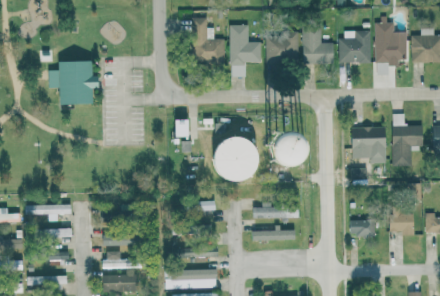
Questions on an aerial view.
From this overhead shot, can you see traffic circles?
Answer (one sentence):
No, the frame has no traffic circle in it.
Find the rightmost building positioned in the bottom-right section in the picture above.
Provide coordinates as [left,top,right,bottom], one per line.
[426,212,440,234]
